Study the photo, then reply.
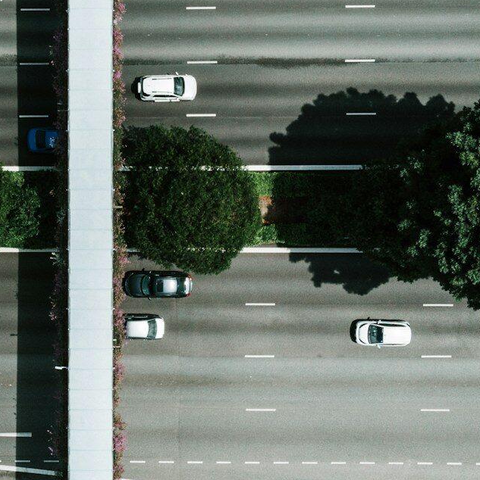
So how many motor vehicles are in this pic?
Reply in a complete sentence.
Altogether the scene contains 5 motor vehicles.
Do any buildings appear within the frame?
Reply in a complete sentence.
No, I find no building anywhere in the image.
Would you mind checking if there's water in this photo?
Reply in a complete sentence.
No, there is no water in the image.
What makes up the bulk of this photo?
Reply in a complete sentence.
The largest share of the image is taken up by paved ground.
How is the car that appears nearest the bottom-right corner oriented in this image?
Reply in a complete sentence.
The car that appears nearest the bottom-right corner has been laid out horizontally relative to the frame.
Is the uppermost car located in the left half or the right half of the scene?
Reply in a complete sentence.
It is on the left.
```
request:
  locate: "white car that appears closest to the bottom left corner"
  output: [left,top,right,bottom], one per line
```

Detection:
[121,313,166,340]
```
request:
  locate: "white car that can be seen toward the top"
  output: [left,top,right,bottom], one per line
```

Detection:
[134,71,199,101]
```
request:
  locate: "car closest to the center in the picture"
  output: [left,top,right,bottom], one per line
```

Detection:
[124,269,194,300]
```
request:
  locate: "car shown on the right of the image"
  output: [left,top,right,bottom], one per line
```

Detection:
[354,319,416,349]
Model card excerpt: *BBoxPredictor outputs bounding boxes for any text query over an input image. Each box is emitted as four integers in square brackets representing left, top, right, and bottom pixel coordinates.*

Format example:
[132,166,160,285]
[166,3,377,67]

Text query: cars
[354,319,416,349]
[121,313,166,340]
[134,71,199,101]
[27,126,60,153]
[124,269,194,300]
